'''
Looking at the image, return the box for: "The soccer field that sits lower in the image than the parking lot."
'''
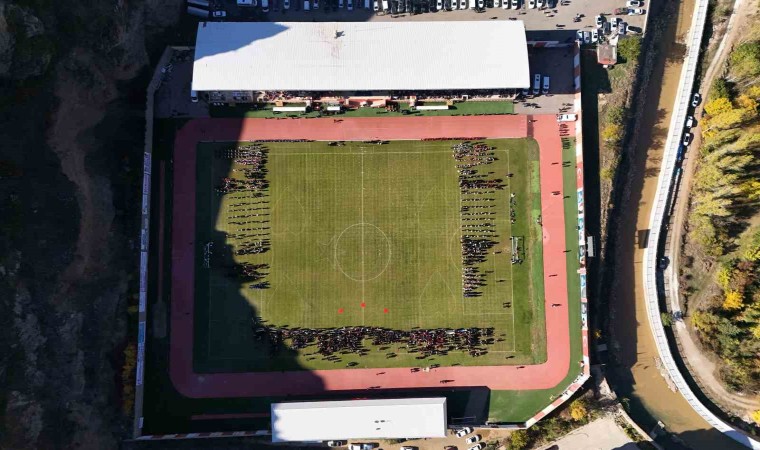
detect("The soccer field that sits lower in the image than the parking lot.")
[193,138,546,373]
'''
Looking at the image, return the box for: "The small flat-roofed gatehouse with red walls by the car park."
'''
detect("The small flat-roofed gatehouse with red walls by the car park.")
[597,42,622,65]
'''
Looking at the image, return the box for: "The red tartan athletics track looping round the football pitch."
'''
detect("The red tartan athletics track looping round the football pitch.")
[169,114,569,397]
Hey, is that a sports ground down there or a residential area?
sports ground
